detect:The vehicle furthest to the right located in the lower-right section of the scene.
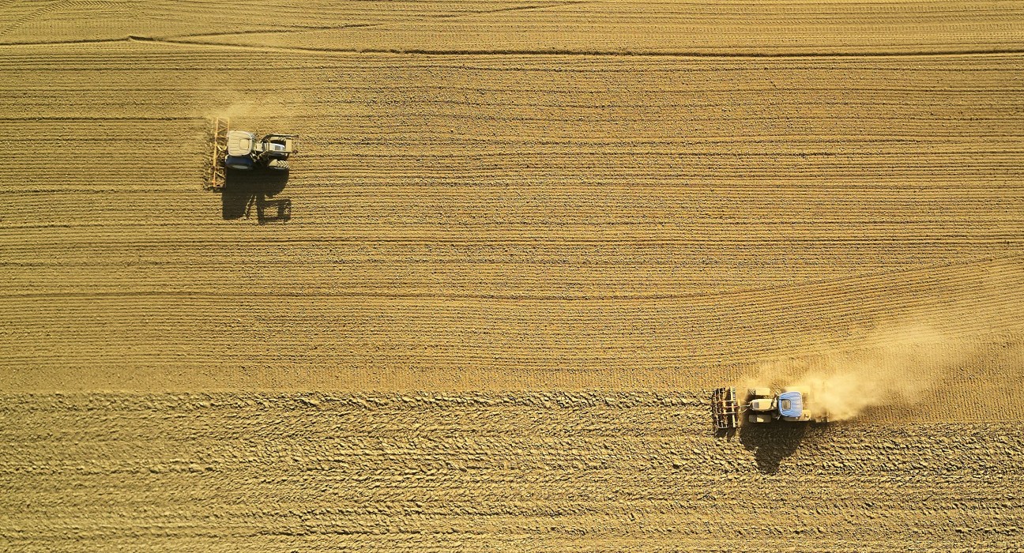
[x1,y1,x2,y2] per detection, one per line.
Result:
[741,386,813,425]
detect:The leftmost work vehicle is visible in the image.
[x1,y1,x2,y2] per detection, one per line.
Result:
[222,126,299,170]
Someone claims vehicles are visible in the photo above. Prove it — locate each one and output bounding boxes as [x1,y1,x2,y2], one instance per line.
[741,386,813,425]
[222,126,299,170]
